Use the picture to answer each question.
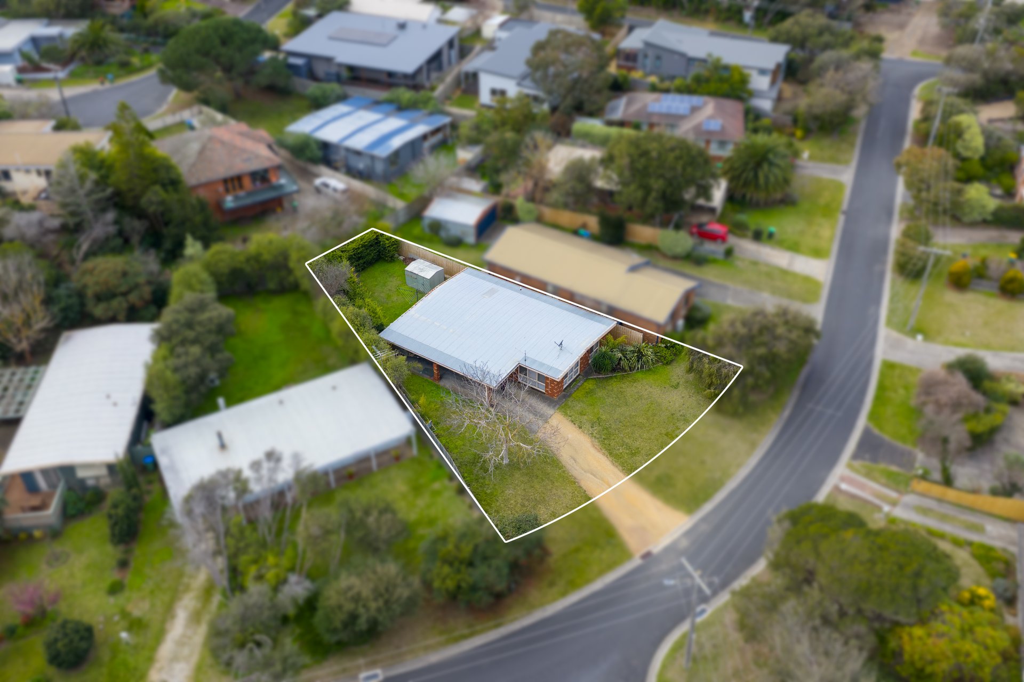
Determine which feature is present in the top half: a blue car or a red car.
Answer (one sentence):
The one visible in the top half is a red car.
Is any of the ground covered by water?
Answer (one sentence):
No, there's no water in this view.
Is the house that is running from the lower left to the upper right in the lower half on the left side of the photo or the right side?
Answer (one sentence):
You can find the house that is running from the lower left to the upper right in the lower half on the left side of the picture.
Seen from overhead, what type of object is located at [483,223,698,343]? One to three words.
house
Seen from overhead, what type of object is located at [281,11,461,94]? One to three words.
house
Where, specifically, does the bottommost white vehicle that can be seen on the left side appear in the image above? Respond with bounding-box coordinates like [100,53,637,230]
[314,178,349,195]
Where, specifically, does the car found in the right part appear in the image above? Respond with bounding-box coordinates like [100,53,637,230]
[691,224,730,244]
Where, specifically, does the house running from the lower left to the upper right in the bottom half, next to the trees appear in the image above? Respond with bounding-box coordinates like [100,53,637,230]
[0,322,165,531]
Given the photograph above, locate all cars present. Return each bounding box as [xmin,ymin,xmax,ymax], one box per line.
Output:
[314,178,349,195]
[691,224,730,244]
